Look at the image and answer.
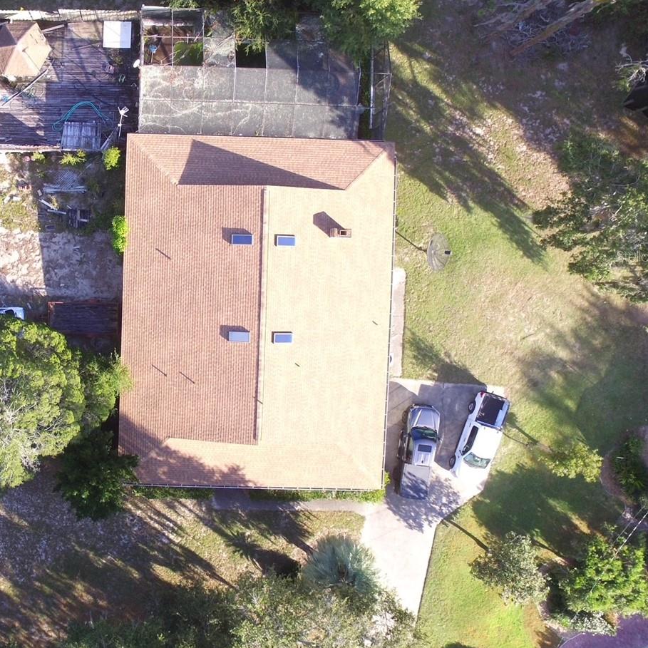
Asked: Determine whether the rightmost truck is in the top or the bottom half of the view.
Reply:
bottom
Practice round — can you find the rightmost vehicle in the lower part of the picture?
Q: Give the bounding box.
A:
[449,391,512,490]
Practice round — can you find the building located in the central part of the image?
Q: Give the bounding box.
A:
[119,134,397,494]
